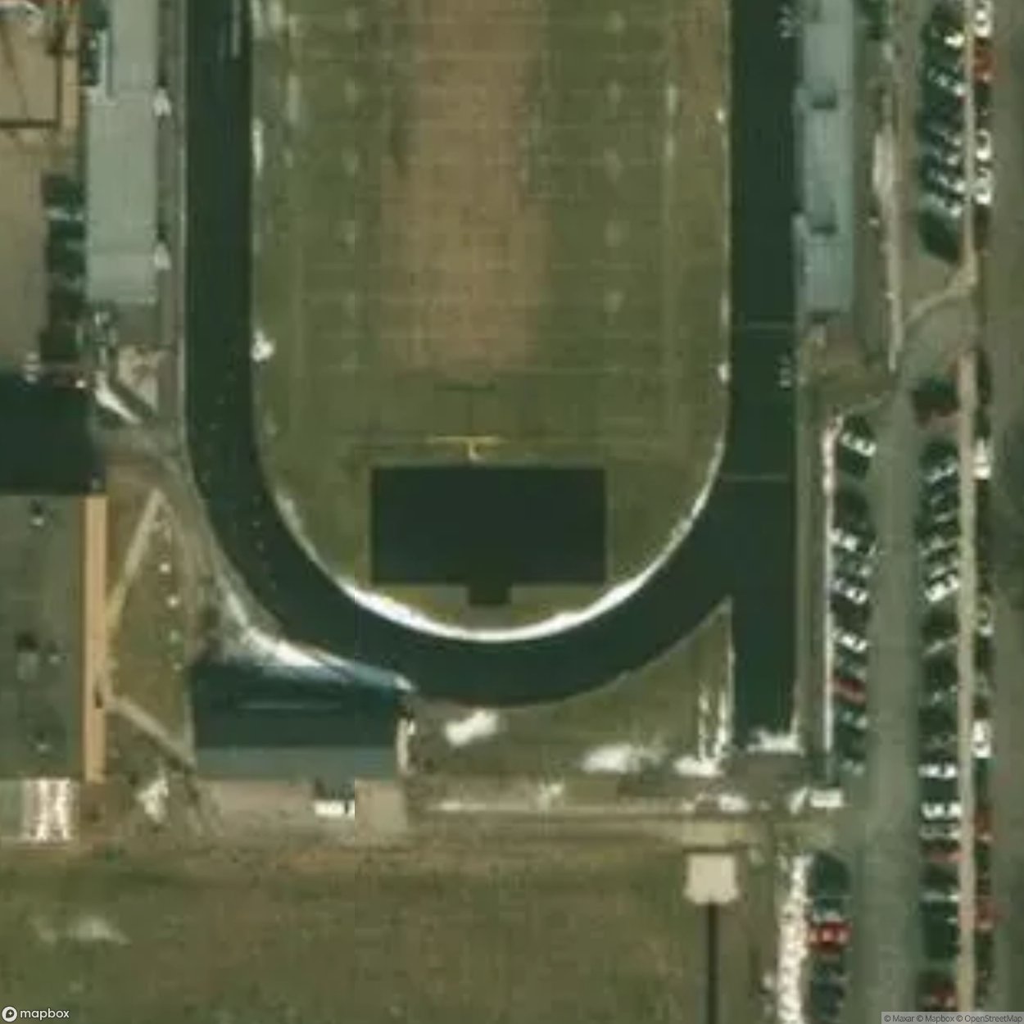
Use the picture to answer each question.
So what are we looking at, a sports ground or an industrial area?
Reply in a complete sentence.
This image shows a sports ground.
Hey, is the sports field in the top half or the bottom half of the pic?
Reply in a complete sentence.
The sports field sits in the top half of the picture.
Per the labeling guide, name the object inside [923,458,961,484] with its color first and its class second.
gray car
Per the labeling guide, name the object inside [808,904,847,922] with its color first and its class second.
gray car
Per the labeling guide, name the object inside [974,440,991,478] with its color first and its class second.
white car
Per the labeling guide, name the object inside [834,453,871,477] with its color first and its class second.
black car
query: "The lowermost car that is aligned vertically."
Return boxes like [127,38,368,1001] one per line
[976,976,993,1015]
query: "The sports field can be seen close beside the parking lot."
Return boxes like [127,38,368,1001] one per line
[255,0,727,629]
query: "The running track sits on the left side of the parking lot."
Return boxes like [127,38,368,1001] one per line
[186,0,796,744]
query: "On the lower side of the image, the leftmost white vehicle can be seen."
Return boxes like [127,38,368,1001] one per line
[315,798,359,817]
